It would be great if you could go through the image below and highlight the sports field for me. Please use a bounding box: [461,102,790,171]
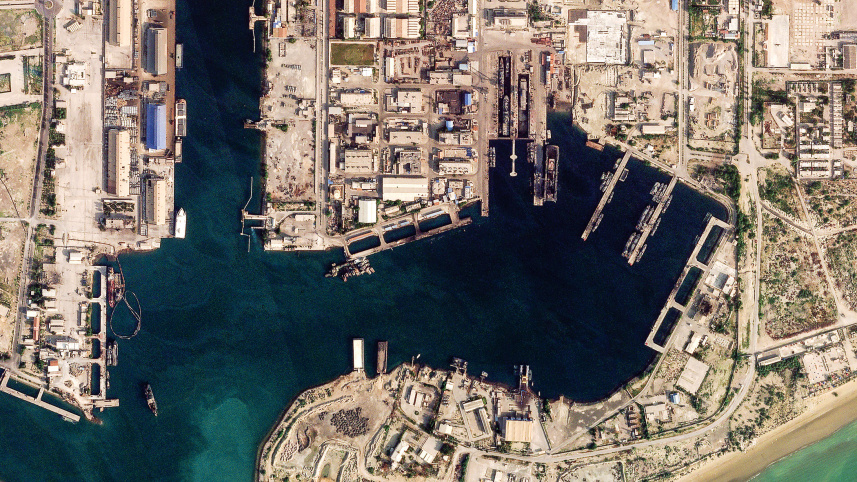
[330,42,374,66]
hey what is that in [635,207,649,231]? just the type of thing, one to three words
ship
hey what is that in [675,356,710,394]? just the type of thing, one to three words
building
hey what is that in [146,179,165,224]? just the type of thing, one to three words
building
